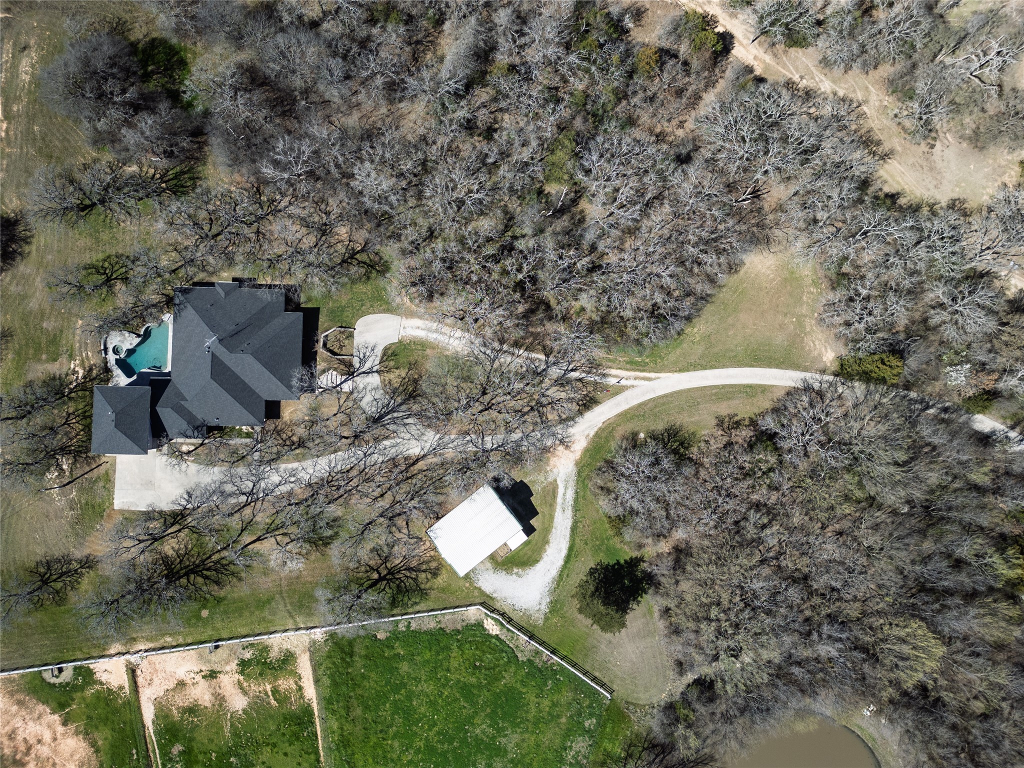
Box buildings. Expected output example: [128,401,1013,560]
[155,282,305,439]
[426,483,528,576]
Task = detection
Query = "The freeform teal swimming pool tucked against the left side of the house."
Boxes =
[113,318,171,381]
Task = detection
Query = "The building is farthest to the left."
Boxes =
[91,385,159,455]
